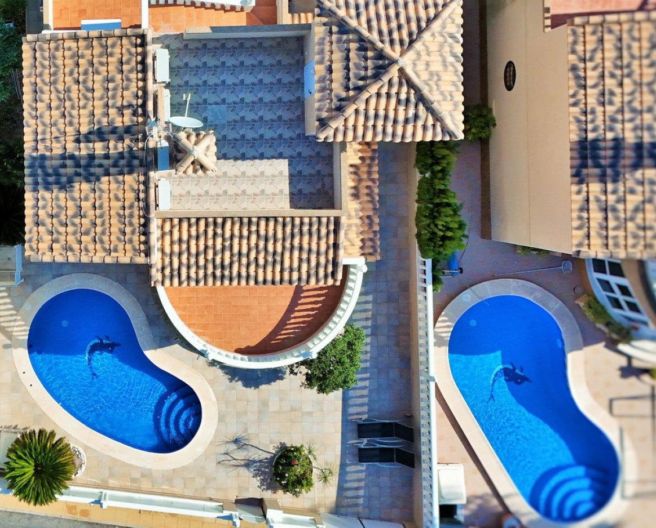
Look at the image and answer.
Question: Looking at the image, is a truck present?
No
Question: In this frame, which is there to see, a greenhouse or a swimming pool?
swimming pool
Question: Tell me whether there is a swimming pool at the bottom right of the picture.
Yes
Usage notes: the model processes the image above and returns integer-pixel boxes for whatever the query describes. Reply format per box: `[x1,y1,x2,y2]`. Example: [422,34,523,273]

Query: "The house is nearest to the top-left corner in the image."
[22,0,470,368]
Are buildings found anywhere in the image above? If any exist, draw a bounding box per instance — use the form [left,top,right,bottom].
[484,0,656,361]
[22,0,470,368]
